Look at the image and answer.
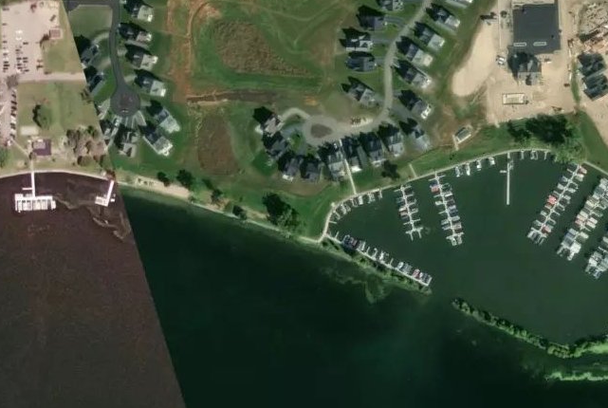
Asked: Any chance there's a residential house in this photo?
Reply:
Yes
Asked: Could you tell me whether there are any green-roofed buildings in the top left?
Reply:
No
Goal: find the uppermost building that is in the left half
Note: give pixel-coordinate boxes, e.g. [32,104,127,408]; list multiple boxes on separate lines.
[124,0,152,21]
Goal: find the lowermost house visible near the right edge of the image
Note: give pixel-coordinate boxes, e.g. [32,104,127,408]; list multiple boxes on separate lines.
[585,73,608,99]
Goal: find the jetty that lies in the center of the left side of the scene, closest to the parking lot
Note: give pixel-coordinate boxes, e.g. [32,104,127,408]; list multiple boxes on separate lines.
[16,173,56,210]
